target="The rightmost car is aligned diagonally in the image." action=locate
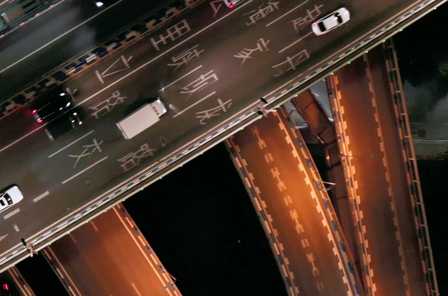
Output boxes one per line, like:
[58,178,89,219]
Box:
[307,7,349,38]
